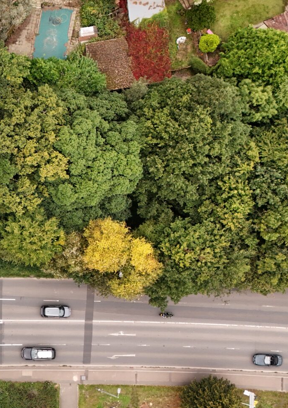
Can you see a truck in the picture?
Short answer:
No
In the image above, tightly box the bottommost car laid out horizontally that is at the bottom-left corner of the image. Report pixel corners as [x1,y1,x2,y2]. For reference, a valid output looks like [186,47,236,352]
[20,345,57,362]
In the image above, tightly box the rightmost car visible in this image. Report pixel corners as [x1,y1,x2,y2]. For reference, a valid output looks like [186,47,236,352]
[250,352,283,368]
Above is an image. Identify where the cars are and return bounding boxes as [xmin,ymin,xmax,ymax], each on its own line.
[39,304,71,320]
[250,352,283,368]
[20,345,57,362]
